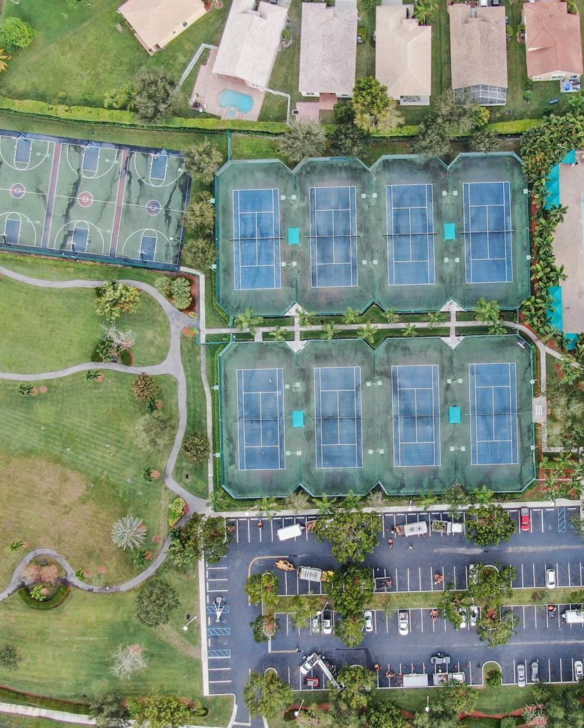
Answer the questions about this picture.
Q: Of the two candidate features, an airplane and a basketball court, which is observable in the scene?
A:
basketball court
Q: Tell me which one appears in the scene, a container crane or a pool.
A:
pool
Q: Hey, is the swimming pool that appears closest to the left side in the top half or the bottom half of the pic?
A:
top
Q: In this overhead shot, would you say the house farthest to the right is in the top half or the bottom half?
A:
top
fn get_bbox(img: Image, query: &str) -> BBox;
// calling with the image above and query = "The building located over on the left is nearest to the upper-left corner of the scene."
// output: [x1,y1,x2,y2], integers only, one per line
[119,0,207,55]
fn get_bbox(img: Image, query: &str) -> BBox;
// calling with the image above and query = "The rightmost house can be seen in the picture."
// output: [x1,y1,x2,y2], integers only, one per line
[522,0,583,82]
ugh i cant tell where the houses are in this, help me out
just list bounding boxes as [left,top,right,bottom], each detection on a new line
[447,3,507,90]
[298,2,357,100]
[375,4,431,102]
[522,0,583,82]
[119,0,207,55]
[212,0,288,92]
